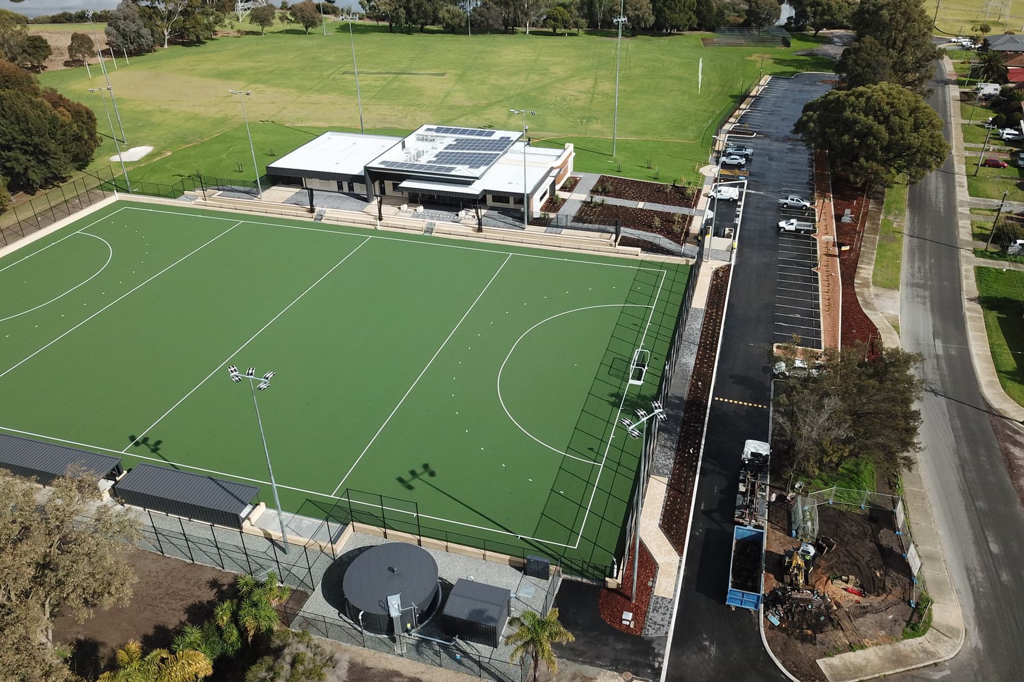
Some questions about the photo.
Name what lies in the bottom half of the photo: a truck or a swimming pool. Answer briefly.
truck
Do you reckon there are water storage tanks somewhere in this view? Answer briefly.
Yes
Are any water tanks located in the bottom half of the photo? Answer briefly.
Yes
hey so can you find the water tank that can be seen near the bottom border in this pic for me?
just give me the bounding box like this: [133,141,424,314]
[338,540,456,653]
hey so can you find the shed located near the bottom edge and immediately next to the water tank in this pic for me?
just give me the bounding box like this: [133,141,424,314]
[442,578,517,651]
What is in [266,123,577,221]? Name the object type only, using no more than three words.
building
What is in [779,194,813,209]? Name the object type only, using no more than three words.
vehicle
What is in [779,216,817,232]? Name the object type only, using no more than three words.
vehicle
